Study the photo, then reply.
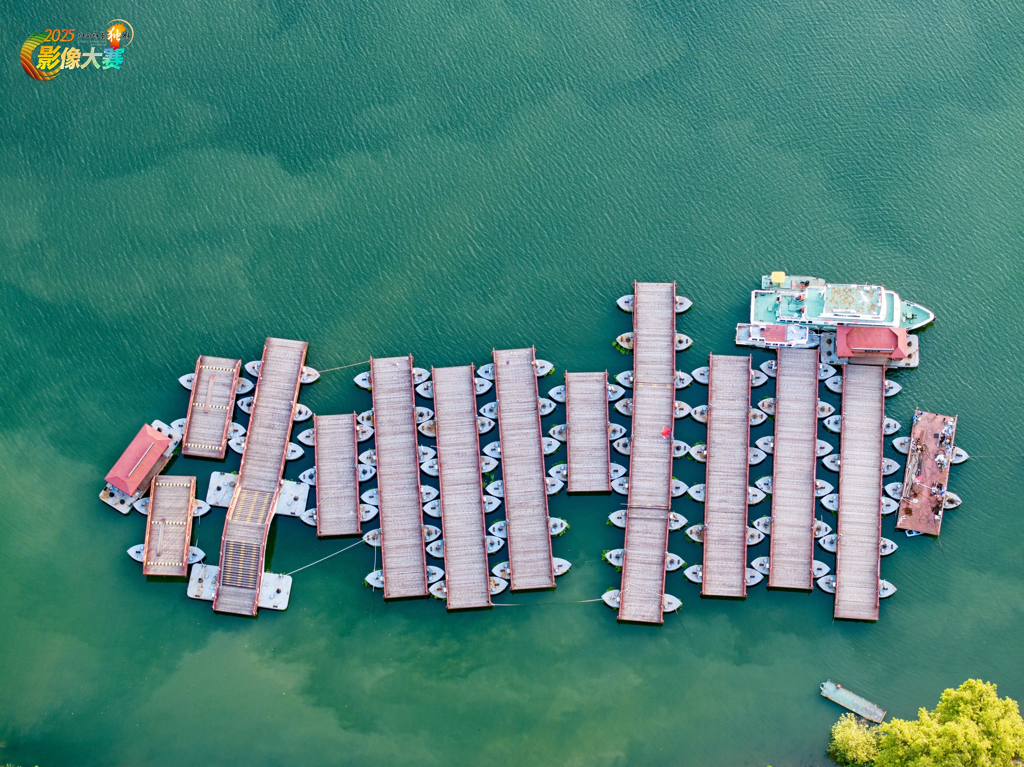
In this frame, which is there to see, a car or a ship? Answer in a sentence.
It is a ship that can be seen here.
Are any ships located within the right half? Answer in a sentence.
Yes, a ship shows up within the right half.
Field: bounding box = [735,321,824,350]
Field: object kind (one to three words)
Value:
boat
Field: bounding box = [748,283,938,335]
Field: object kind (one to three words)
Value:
ship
